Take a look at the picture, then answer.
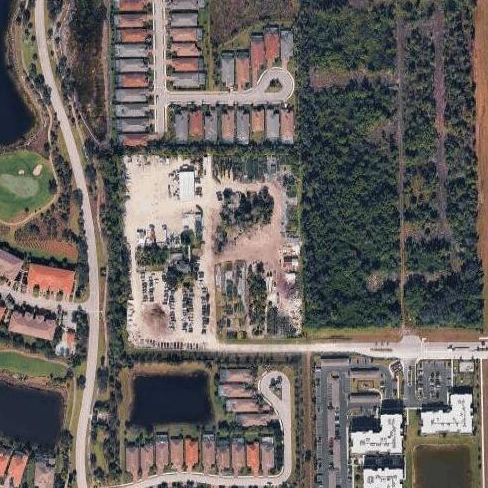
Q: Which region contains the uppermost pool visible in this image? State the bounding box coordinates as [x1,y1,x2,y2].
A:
[55,340,70,357]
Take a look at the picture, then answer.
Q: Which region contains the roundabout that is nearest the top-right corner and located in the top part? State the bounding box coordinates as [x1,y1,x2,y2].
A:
[239,68,294,102]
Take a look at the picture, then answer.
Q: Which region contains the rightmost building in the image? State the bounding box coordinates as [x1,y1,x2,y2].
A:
[421,394,474,434]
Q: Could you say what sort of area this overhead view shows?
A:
residential area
